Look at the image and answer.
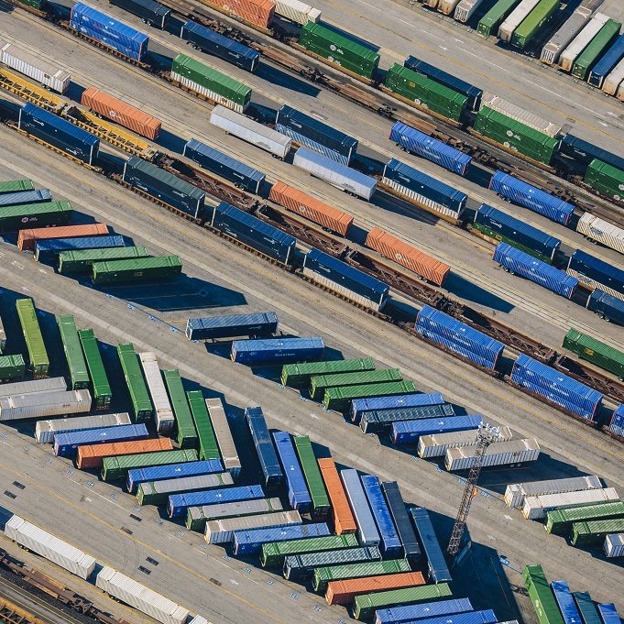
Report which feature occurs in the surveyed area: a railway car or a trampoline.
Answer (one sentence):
There is a railway car in the scene.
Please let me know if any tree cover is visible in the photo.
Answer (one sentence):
No, there's no tree cover in this view.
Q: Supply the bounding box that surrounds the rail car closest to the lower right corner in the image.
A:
[599,422,624,449]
